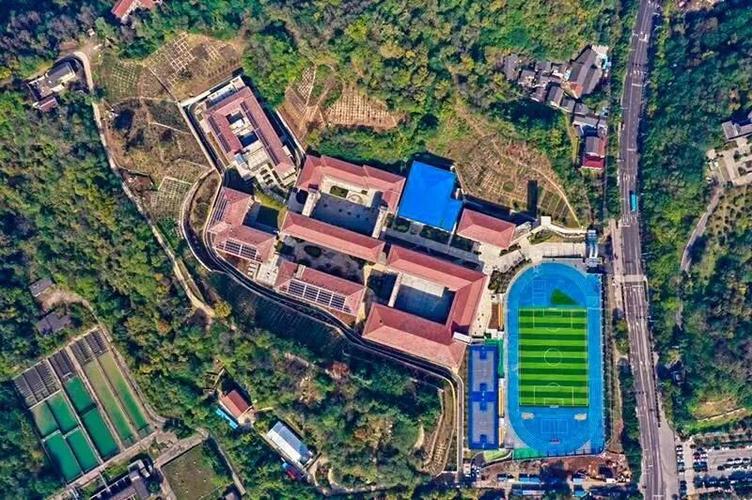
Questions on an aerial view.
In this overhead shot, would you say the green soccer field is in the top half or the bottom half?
bottom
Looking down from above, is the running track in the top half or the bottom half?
bottom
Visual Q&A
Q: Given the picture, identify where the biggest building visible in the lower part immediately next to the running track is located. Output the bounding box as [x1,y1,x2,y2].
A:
[363,245,488,370]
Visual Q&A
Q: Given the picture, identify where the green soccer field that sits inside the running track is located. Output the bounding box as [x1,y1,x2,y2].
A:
[519,308,588,407]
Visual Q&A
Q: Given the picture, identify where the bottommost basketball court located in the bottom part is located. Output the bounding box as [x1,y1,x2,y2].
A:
[472,402,494,442]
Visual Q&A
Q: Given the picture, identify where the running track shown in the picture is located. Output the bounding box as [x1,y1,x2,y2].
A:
[503,261,602,458]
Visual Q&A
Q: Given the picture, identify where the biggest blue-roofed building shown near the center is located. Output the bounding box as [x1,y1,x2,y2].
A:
[398,161,464,233]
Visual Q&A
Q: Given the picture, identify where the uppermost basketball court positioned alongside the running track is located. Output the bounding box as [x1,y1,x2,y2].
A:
[472,350,494,391]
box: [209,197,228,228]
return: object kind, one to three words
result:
solar panel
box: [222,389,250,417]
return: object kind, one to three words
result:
house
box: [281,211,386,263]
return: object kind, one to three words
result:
building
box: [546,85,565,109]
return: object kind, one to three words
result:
house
